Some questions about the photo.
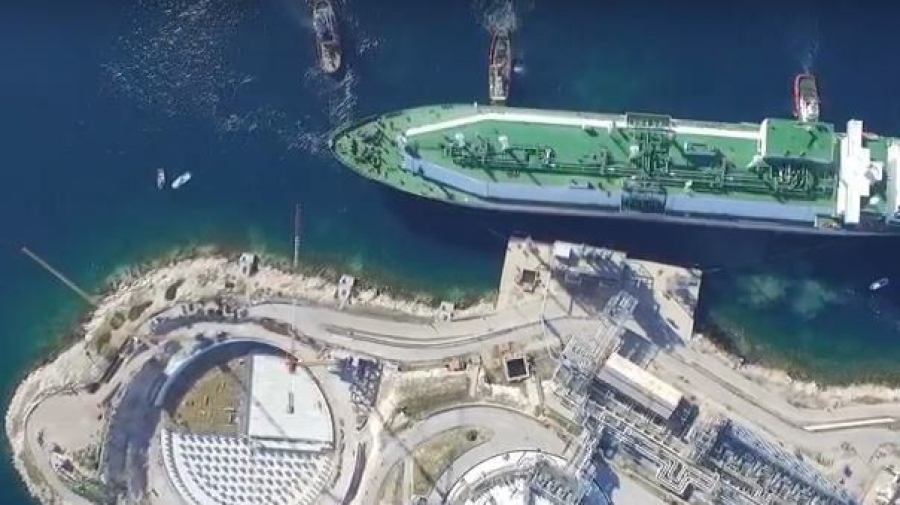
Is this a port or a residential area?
port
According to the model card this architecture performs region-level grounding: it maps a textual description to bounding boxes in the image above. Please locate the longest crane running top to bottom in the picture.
[283,201,345,411]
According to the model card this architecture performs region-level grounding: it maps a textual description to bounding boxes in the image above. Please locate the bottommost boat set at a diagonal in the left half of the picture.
[168,171,190,190]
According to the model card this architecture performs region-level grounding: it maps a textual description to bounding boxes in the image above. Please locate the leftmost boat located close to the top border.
[305,0,339,76]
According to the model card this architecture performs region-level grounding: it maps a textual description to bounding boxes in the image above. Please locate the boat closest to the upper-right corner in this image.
[795,69,825,122]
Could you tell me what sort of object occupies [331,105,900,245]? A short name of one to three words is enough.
ship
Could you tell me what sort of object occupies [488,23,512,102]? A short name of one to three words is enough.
boat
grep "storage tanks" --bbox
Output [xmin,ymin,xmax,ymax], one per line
[439,444,609,505]
[156,335,340,505]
